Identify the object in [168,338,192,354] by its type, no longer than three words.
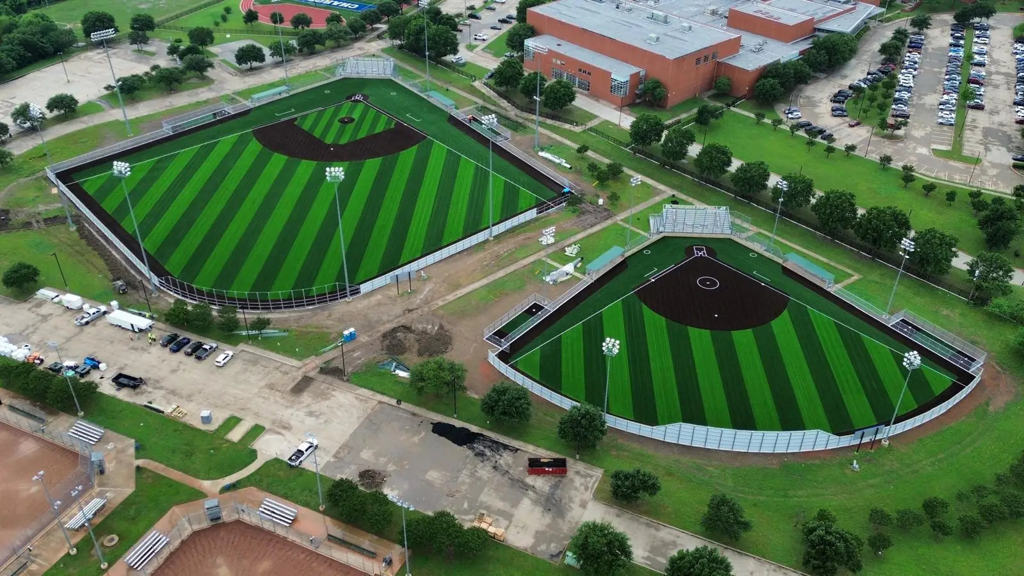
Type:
car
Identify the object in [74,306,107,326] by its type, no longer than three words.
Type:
vehicle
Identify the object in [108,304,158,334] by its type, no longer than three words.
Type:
trailer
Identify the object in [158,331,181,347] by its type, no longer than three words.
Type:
car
